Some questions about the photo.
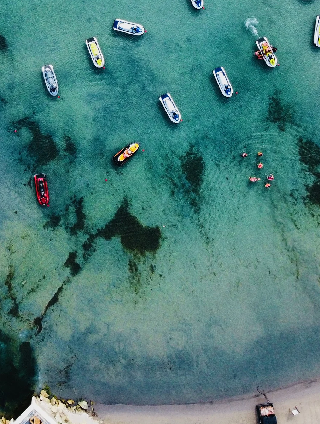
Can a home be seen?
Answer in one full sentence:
No, no home is visible in the scene.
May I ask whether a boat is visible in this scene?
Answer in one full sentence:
Yes, you can see a boat in this photo.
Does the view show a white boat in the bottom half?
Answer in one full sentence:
No, the scene shows no white boat in the bottom half.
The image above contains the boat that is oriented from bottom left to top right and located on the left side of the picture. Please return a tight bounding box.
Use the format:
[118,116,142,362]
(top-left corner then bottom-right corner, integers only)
[114,141,140,165]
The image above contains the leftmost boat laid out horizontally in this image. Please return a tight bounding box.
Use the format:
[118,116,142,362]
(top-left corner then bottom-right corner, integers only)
[113,19,144,35]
